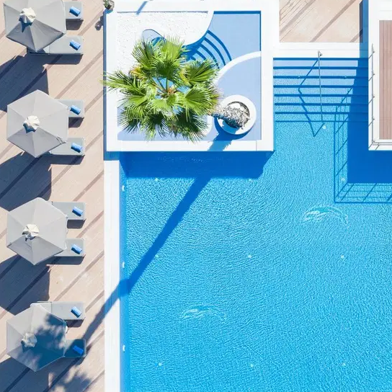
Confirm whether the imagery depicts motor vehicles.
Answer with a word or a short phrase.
No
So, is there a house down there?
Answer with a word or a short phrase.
No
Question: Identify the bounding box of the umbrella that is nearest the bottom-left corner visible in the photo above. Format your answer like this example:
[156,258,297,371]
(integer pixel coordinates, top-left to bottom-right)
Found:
[5,302,68,372]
